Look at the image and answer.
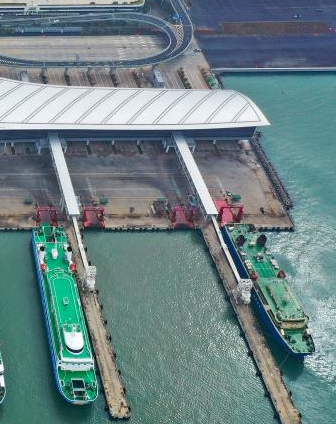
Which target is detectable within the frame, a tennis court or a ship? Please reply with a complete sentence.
It is a ship that can be seen here.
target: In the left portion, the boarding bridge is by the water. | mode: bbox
[49,139,98,296]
